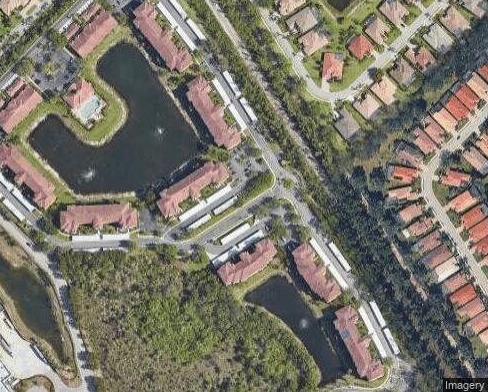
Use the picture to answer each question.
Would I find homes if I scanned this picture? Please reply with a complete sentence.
Yes, a home can be made out from above.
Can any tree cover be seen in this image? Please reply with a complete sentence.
Yes, tree cover can be seen from above here.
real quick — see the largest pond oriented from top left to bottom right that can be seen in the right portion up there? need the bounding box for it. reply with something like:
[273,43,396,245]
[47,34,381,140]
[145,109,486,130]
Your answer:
[244,275,343,384]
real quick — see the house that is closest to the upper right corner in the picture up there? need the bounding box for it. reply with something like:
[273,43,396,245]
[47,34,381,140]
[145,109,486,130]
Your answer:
[457,0,488,19]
